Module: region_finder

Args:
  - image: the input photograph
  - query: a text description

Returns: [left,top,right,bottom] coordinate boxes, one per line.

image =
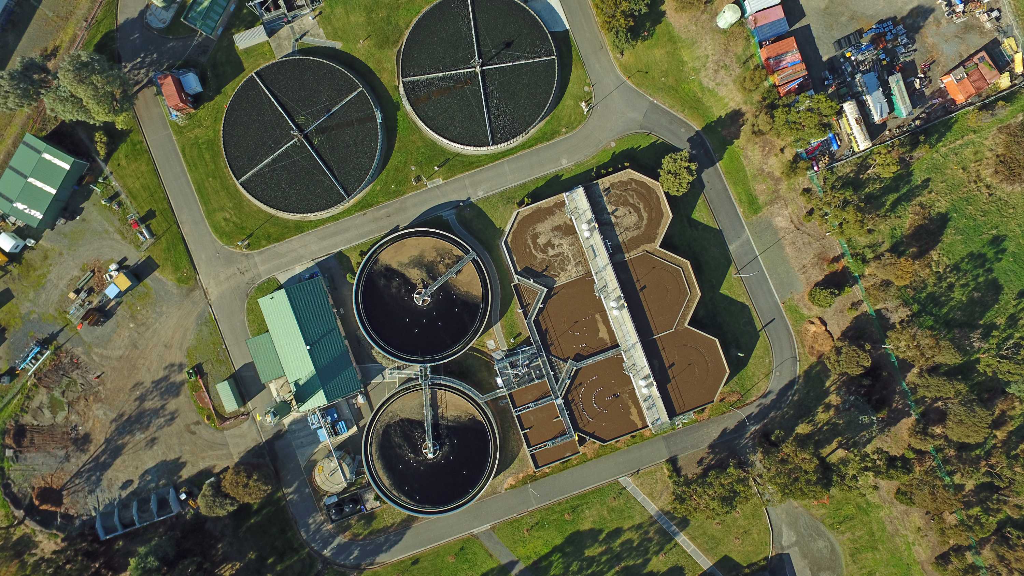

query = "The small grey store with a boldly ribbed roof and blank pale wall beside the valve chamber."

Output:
[233,24,271,49]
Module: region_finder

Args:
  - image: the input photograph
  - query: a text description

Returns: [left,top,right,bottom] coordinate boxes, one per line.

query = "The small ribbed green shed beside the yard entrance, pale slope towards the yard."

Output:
[216,378,251,413]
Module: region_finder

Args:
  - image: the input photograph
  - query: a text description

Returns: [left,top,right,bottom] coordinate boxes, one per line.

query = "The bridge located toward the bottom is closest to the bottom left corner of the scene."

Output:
[419,366,434,454]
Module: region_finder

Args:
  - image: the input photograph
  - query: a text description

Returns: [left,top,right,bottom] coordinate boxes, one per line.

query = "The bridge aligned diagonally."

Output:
[416,248,480,302]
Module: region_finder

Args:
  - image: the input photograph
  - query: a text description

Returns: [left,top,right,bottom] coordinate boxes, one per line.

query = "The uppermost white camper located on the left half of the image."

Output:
[0,232,28,253]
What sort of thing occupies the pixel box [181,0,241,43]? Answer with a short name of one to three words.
building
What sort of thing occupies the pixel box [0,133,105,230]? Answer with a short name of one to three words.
shed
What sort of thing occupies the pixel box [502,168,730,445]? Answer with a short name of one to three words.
storage tank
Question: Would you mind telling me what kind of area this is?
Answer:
industrial area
